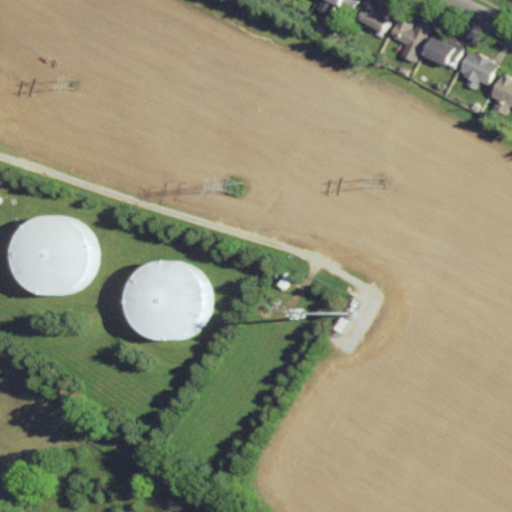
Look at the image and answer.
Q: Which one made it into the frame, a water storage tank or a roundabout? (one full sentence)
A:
This aerial view contains a water storage tank.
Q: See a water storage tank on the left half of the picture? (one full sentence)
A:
Yes, there is a water storage tank on the left half of the picture.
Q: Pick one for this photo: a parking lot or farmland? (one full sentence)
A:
The area seen from above is farmland.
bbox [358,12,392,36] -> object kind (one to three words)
house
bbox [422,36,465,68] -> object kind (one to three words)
house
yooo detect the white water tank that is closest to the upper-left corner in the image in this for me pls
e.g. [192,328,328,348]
[8,215,102,296]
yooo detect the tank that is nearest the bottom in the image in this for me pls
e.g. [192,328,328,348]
[121,260,214,341]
